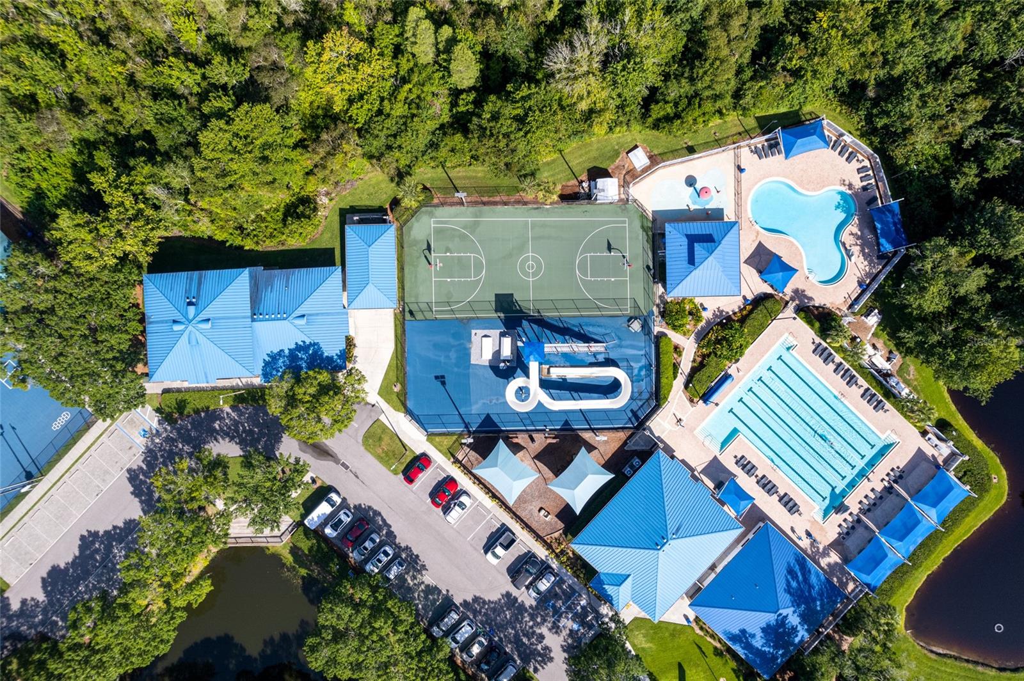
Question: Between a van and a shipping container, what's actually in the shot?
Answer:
van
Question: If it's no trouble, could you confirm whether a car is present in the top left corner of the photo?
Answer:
No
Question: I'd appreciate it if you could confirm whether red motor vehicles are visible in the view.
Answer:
Yes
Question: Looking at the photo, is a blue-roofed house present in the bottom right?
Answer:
Yes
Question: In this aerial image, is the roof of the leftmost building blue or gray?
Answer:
blue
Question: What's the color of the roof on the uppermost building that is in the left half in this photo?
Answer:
blue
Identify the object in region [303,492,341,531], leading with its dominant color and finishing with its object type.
white van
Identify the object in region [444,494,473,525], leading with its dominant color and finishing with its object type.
white car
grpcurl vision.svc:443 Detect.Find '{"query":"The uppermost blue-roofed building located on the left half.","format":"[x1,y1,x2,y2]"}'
[345,214,397,309]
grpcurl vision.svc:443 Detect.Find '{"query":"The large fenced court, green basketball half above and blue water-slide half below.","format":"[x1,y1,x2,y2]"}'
[403,203,656,433]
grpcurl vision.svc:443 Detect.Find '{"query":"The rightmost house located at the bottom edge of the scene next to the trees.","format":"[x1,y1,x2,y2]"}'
[689,522,847,680]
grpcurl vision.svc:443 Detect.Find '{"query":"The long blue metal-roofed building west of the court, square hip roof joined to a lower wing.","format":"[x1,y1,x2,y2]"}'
[143,265,350,384]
